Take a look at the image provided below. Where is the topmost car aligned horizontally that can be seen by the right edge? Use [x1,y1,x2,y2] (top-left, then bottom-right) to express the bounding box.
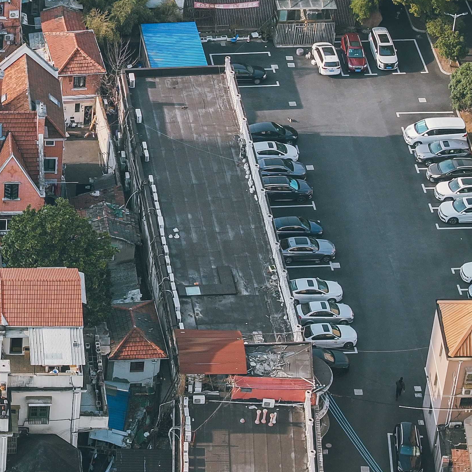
[404,118,466,146]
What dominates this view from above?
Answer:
buildings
